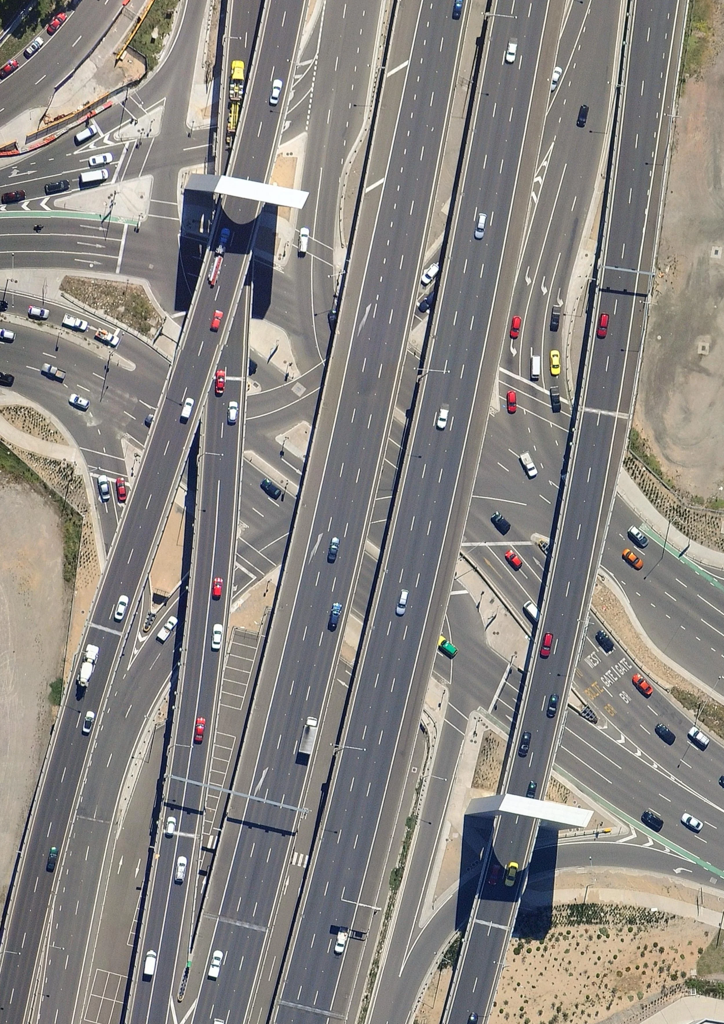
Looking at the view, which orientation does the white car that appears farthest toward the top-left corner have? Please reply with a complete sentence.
The white car that appears farthest toward the top-left corner has been laid out at an angle relative to the frame.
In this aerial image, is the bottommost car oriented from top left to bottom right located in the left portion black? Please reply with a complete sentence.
Yes, black is the color of the bottommost car oriented from top left to bottom right located in the left portion.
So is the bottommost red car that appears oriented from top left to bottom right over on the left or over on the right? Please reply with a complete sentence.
You can find the bottommost red car that appears oriented from top left to bottom right on the right side of the picture.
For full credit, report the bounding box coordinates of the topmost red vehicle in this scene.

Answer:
[46,12,68,35]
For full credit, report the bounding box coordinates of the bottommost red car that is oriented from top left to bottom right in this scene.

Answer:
[632,673,653,697]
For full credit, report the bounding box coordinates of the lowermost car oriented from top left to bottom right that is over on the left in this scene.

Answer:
[260,478,282,499]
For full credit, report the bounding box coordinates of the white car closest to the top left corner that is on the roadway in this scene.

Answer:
[23,36,45,59]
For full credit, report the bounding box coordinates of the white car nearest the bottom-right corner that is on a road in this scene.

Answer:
[681,813,703,834]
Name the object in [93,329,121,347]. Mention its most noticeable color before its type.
white vehicle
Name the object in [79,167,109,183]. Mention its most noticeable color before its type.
white vehicle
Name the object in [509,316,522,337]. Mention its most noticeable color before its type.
red vehicle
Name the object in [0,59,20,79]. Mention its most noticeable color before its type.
red car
